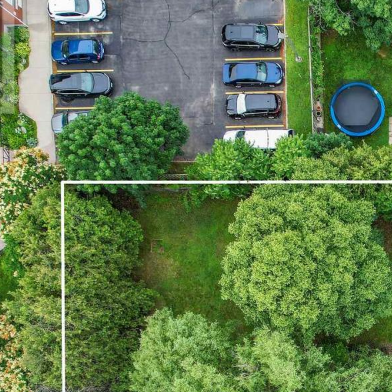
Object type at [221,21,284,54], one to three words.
car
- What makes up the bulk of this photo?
trees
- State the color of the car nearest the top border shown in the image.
white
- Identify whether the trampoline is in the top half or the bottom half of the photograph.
top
